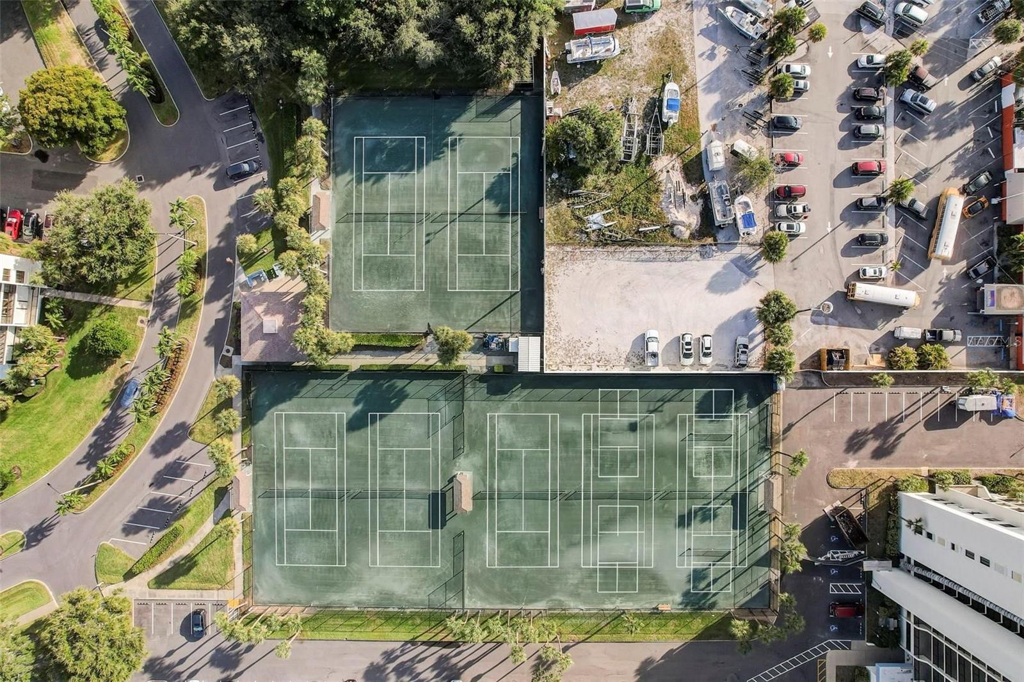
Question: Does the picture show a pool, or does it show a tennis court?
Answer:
tennis court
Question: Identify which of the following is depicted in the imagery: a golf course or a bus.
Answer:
bus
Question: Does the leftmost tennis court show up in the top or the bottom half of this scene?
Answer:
bottom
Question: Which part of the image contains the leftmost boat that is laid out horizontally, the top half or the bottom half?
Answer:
top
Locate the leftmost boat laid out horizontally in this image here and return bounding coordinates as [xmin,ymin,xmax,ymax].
[564,37,623,62]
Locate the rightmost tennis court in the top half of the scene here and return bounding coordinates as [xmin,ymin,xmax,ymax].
[448,136,520,291]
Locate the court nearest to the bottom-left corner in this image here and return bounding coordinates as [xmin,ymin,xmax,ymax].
[275,412,347,566]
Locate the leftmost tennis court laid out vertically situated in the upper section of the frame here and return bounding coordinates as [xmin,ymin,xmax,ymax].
[353,136,425,291]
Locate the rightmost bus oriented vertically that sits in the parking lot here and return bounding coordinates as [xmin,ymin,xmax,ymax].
[921,188,959,264]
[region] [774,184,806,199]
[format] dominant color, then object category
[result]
red car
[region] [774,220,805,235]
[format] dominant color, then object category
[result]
white car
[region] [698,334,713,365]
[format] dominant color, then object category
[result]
white car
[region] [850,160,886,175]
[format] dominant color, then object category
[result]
red car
